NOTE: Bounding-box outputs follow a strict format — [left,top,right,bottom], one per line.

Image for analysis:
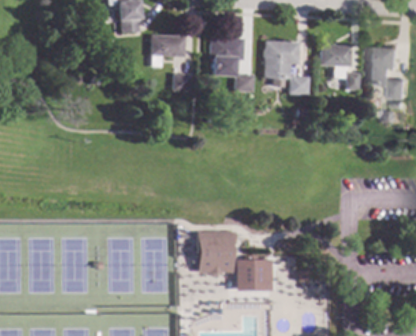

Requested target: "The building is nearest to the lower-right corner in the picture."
[237,260,272,291]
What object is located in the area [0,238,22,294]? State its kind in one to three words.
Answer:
tennis court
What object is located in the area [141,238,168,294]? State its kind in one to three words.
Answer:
tennis court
